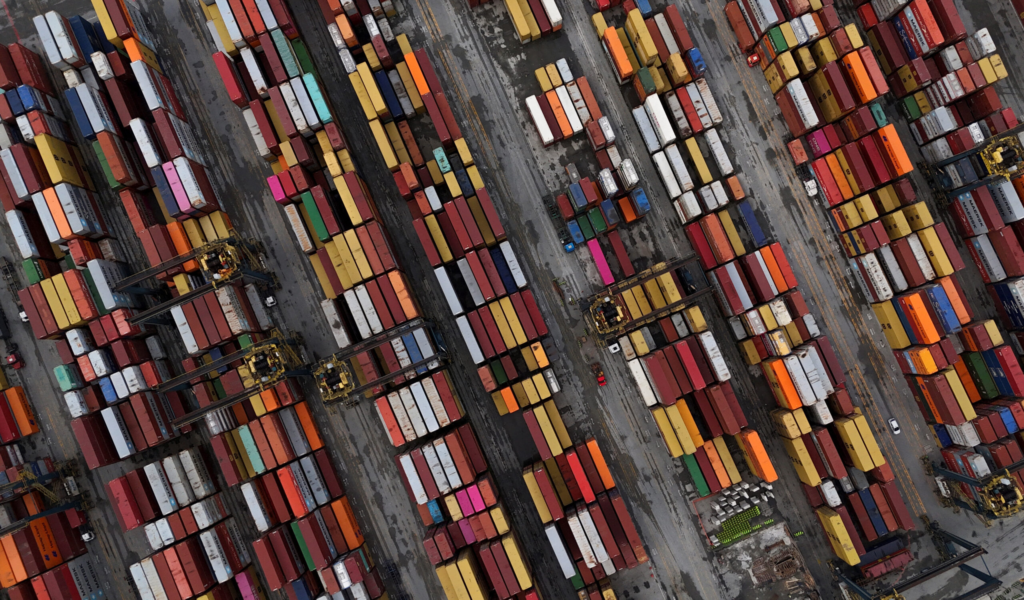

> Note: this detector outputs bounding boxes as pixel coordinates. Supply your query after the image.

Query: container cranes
[113,236,279,333]
[918,121,1024,208]
[573,250,714,345]
[920,457,1024,526]
[0,459,96,541]
[155,334,317,431]
[309,314,451,408]
[823,513,1003,600]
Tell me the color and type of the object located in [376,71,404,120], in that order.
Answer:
black shipping container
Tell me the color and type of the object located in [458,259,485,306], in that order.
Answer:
gray shipping container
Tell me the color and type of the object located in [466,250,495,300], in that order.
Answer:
red shipping container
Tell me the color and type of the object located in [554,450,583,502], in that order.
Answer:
red shipping container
